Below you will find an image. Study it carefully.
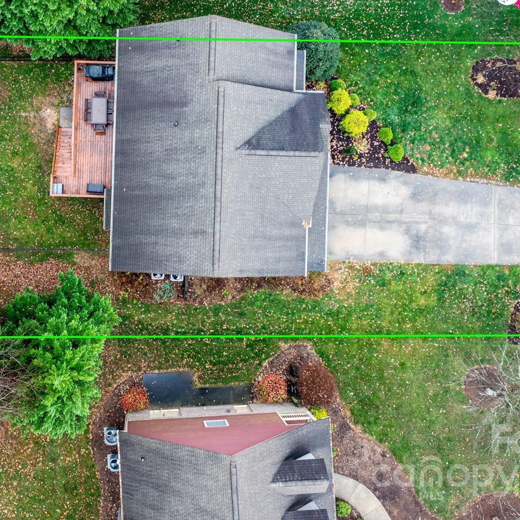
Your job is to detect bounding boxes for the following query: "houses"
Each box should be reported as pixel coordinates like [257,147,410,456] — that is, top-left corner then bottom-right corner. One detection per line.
[102,15,330,277]
[117,404,336,520]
